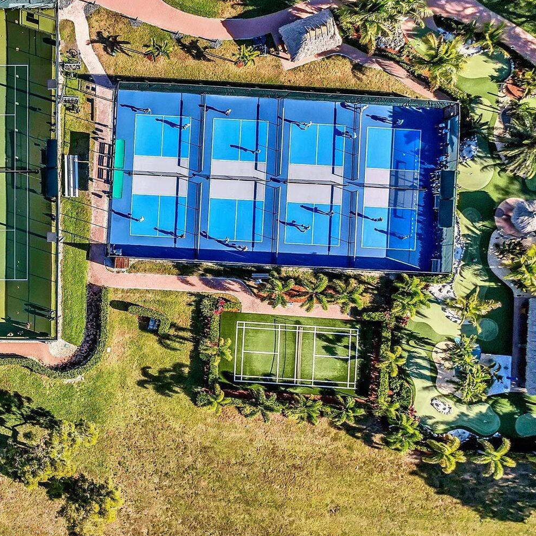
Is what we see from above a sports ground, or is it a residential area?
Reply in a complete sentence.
The area seen from above is a sports ground.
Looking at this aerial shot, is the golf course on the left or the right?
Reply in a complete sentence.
It is on the right.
